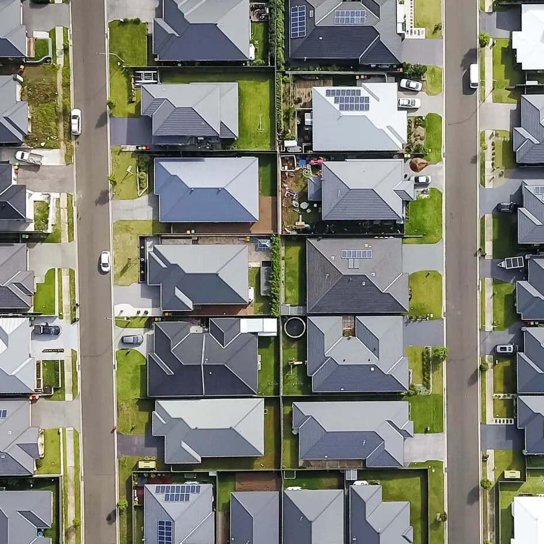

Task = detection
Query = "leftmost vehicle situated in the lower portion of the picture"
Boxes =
[35,321,62,335]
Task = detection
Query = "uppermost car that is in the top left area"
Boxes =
[69,109,83,134]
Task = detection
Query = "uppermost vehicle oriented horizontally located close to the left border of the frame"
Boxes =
[16,150,44,164]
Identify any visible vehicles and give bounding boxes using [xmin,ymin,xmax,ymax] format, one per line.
[120,334,144,345]
[468,62,479,89]
[99,252,110,271]
[69,109,83,134]
[496,202,518,212]
[495,344,517,354]
[400,79,424,92]
[35,321,62,335]
[16,150,44,164]
[410,175,432,185]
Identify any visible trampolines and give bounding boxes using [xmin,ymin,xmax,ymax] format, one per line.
[311,220,327,236]
[284,317,307,338]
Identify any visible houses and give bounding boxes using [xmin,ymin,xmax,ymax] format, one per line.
[511,3,544,70]
[312,83,408,152]
[307,160,415,220]
[511,495,544,544]
[0,400,42,476]
[350,480,413,544]
[148,244,249,311]
[152,0,250,61]
[148,318,278,396]
[0,0,30,59]
[0,243,37,309]
[0,164,32,220]
[0,491,56,544]
[152,399,265,465]
[516,256,544,319]
[517,179,544,244]
[307,237,409,313]
[143,483,215,544]
[513,95,544,165]
[0,75,32,144]
[231,492,279,544]
[292,401,413,467]
[0,317,39,394]
[141,83,238,147]
[517,327,544,393]
[288,0,402,66]
[154,157,259,223]
[282,485,344,544]
[517,395,544,454]
[307,316,409,392]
